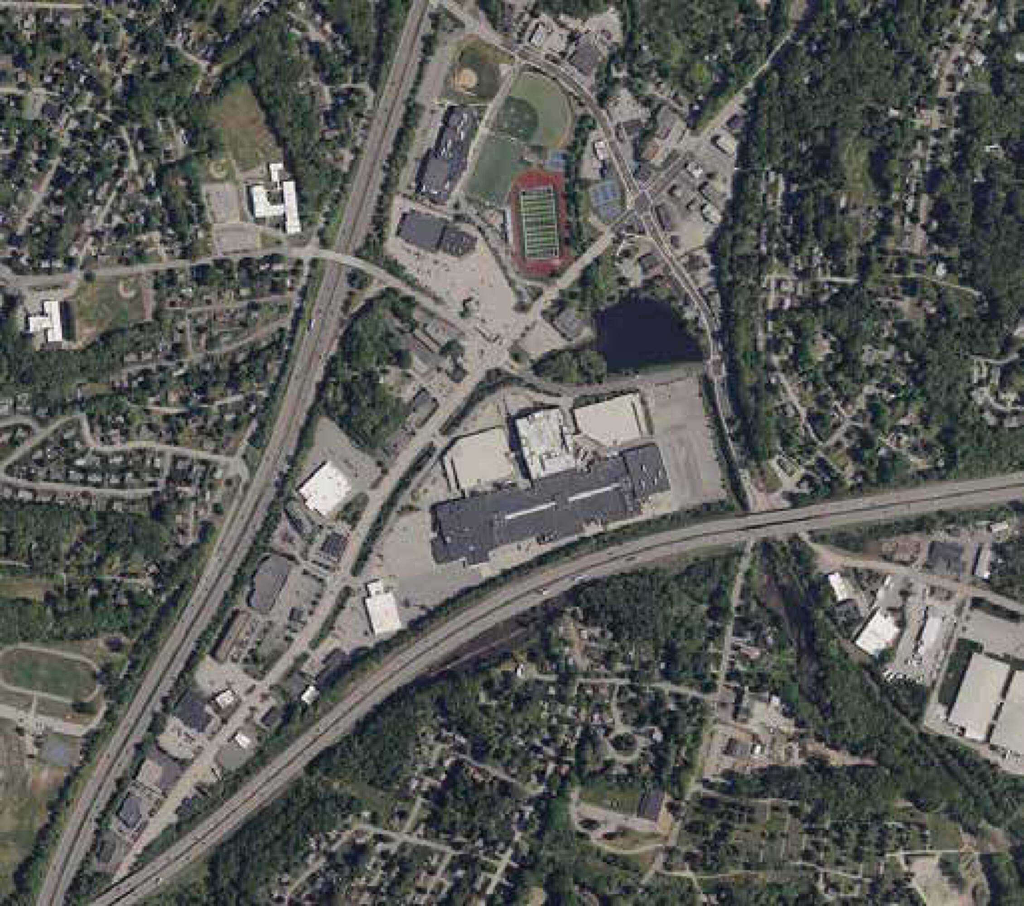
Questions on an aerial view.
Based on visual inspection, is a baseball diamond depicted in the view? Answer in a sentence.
Yes, there's a baseball diamond down there.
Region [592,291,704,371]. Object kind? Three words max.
pond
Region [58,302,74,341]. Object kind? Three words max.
building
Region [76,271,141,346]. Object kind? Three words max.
sports field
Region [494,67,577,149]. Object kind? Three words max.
baseball field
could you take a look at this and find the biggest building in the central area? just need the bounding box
[431,452,640,564]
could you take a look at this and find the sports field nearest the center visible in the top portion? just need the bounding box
[517,184,562,259]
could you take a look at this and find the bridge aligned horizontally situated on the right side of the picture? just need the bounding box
[743,508,800,538]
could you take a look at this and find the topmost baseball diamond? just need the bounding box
[442,36,514,105]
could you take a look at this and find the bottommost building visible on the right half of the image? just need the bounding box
[638,791,665,817]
